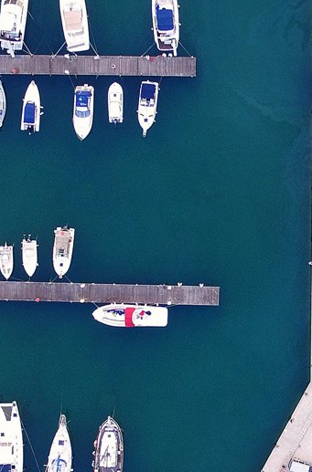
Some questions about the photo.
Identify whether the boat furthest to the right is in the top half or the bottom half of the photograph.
top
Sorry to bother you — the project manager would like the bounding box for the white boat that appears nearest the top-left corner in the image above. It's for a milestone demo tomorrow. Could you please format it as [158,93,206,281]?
[0,0,28,57]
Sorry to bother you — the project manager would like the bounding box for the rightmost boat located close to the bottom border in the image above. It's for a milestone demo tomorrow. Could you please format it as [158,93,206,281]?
[92,416,123,472]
